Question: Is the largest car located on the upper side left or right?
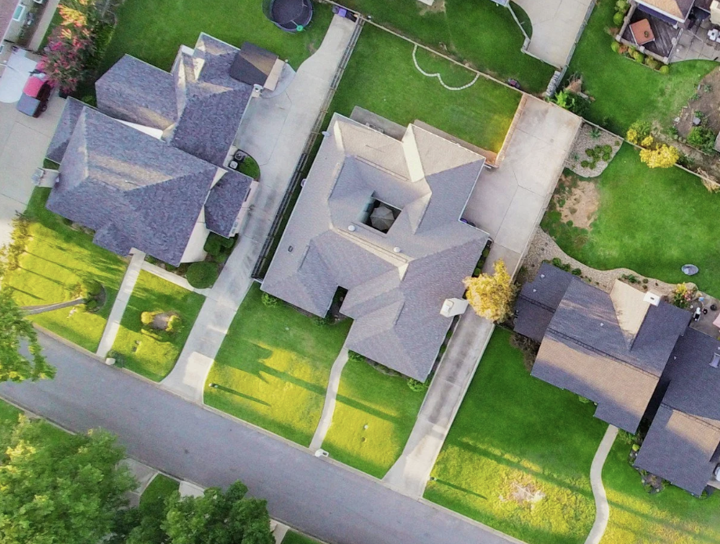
left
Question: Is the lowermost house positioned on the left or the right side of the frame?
right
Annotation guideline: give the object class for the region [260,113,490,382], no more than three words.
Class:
house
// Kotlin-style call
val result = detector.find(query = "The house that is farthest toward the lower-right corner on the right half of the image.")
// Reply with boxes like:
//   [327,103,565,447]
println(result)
[512,261,720,497]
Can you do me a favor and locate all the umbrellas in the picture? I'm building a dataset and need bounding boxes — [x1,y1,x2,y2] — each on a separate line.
[713,308,720,332]
[629,19,656,47]
[368,204,397,231]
